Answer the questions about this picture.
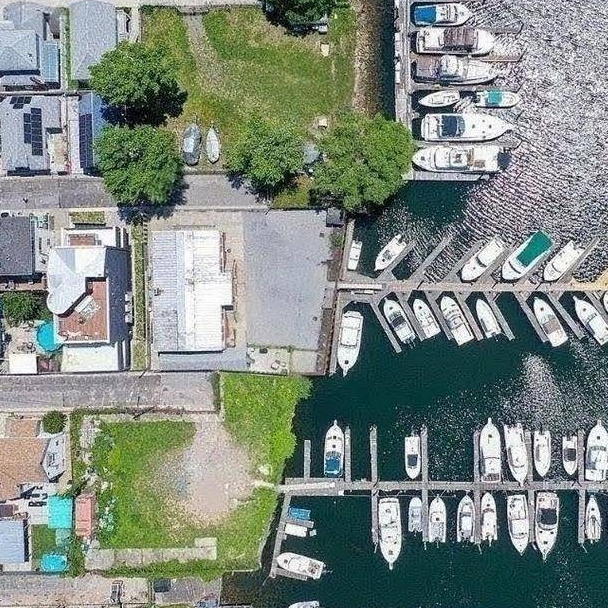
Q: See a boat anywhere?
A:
Yes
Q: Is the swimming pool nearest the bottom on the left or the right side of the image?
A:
left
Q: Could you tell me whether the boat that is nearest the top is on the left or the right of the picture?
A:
right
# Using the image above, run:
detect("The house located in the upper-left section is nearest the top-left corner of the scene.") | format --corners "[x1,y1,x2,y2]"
[0,4,48,75]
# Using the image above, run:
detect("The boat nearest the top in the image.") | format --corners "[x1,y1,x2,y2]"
[413,2,474,26]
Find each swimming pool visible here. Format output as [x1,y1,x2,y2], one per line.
[34,323,61,351]
[41,552,69,572]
